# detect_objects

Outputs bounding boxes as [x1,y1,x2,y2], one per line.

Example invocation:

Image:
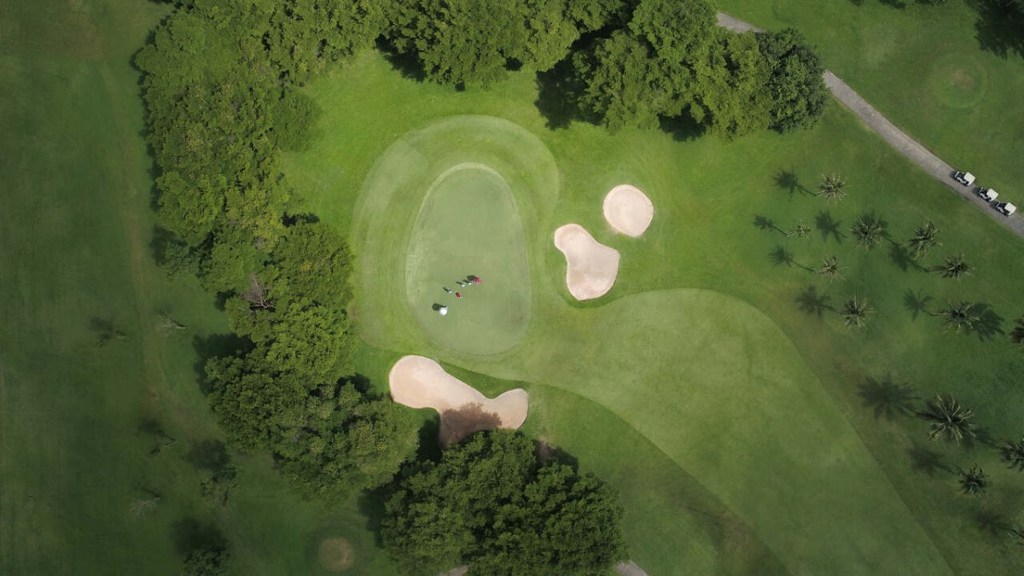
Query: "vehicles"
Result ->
[976,187,1001,204]
[994,200,1019,218]
[952,170,977,188]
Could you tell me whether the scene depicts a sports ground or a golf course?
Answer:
golf course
